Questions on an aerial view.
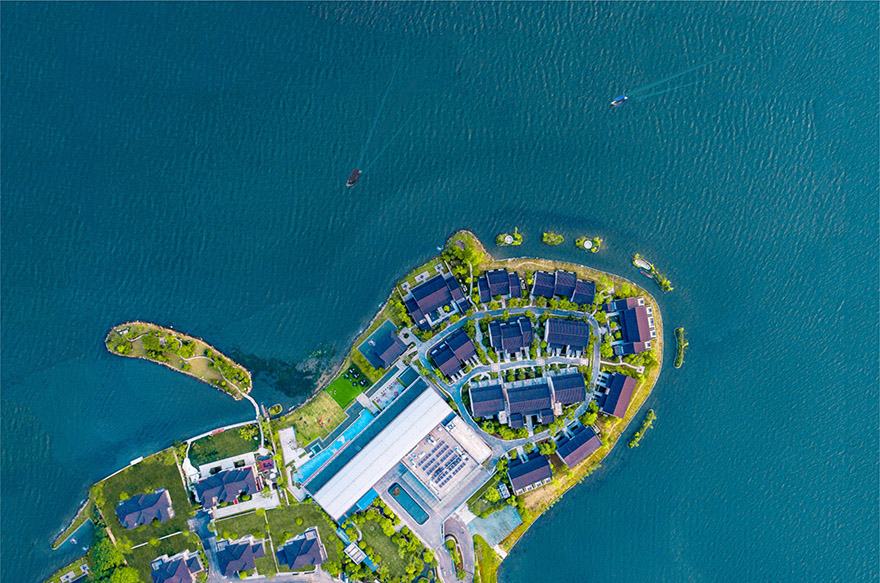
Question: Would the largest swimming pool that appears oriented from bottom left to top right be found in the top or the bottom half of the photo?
bottom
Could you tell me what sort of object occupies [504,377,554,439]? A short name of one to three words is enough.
house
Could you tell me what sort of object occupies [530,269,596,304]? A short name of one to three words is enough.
house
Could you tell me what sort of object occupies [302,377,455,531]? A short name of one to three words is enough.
building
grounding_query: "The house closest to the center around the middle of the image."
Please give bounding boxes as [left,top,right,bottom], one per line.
[400,263,472,333]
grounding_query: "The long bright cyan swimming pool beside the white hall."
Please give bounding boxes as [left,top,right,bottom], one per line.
[293,403,375,485]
